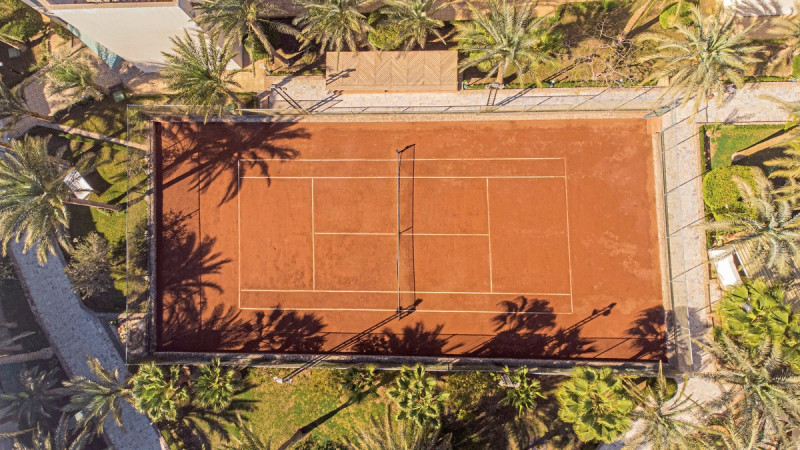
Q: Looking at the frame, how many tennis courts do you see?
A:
one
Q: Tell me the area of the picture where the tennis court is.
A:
center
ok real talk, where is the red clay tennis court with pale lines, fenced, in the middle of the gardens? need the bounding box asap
[155,112,666,362]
